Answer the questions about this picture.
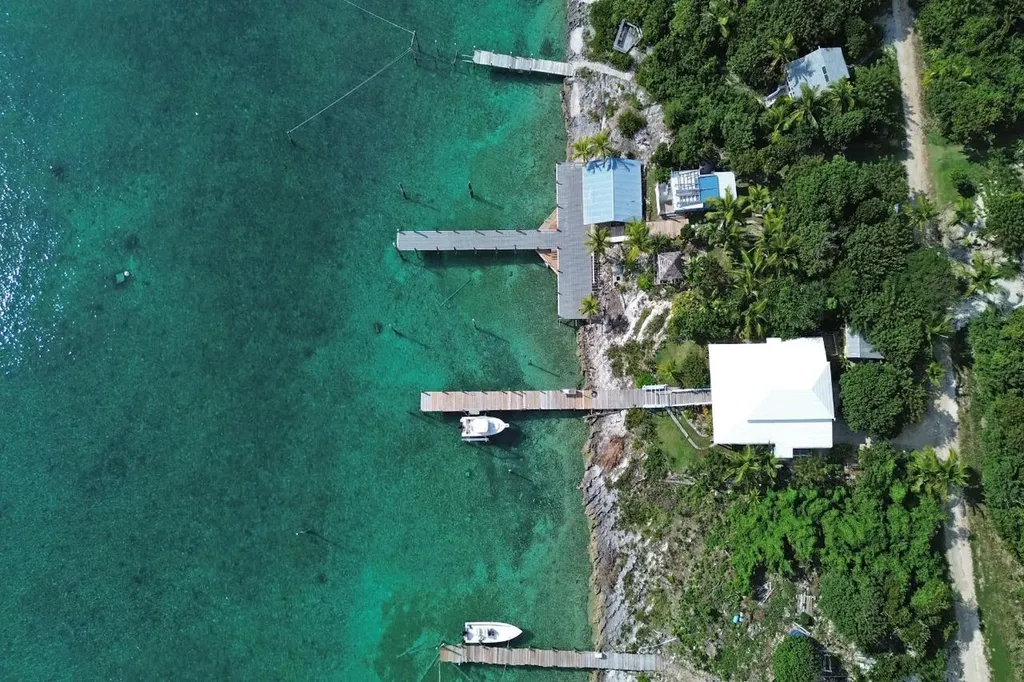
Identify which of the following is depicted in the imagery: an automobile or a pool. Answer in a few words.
pool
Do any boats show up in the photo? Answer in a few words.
Yes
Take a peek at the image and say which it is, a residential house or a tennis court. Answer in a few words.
residential house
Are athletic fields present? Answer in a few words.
No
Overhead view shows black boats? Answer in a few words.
No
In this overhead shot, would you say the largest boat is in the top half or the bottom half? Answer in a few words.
bottom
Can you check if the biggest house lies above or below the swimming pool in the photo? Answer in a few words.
below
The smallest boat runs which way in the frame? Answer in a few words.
from left to right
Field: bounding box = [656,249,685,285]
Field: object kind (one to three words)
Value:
shed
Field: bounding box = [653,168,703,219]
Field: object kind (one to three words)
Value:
building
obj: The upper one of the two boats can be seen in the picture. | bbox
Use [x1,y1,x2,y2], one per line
[457,416,509,436]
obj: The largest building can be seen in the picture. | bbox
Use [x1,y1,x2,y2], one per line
[708,336,837,460]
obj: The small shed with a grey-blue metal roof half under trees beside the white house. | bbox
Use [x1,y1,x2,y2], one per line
[844,325,884,358]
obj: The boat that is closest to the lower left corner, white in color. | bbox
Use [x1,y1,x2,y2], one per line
[459,621,522,644]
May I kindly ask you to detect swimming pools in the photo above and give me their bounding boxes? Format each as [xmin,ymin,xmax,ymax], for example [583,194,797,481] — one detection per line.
[696,172,737,215]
